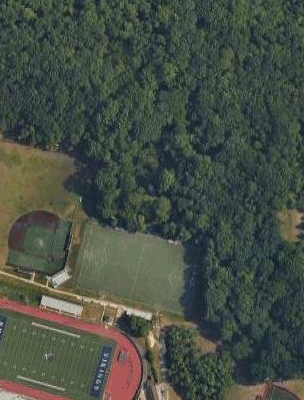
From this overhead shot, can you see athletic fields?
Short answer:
Yes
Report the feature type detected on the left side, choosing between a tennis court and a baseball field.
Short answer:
baseball field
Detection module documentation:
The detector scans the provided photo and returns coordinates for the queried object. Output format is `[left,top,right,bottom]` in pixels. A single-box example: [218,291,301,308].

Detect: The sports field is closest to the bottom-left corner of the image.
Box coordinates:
[0,311,116,400]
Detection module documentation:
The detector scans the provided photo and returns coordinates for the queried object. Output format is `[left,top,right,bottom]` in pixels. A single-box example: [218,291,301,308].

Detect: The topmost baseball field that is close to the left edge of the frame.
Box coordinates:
[6,210,71,275]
